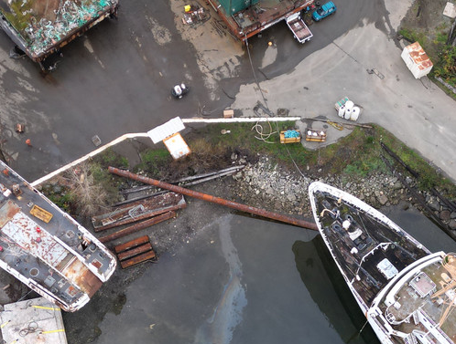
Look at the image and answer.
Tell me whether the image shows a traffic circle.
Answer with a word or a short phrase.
No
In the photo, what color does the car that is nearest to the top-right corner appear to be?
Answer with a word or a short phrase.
blue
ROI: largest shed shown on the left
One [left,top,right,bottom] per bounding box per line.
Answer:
[147,117,192,162]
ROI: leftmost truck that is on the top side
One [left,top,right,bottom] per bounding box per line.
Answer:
[288,13,313,43]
